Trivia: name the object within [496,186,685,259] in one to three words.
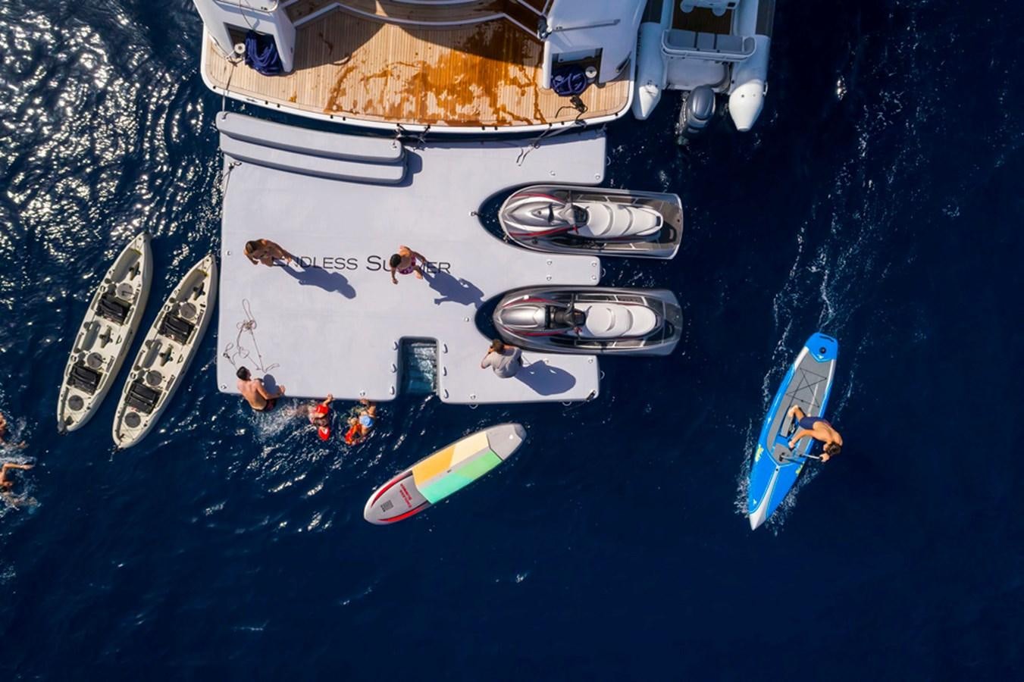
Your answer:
boat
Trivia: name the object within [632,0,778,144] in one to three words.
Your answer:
boat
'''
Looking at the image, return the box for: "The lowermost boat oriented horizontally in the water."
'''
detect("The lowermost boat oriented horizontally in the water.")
[491,283,685,356]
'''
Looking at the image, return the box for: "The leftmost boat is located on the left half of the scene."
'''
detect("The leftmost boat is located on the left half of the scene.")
[51,233,151,440]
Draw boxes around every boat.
[51,233,151,440]
[496,186,685,259]
[194,0,646,136]
[491,283,685,356]
[108,254,217,456]
[632,0,778,144]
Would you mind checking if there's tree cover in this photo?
No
